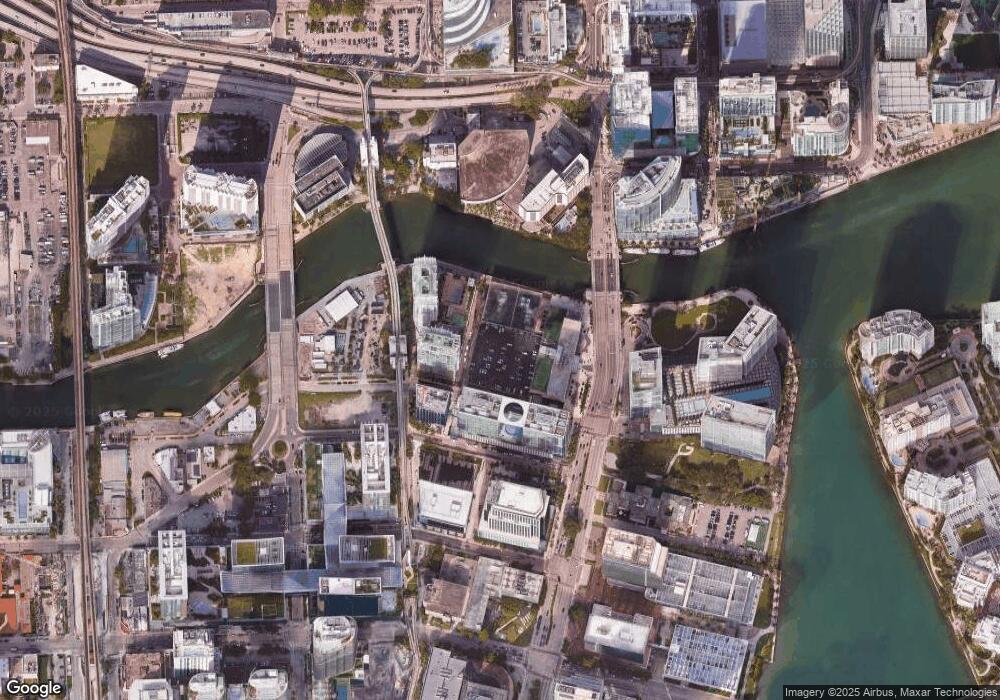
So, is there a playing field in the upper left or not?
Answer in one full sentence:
Yes, a playing field appears in the upper left.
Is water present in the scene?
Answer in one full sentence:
Yes, water shows up in the scene.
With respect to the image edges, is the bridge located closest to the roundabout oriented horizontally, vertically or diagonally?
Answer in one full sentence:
The bridge located closest to the roundabout runs vertically in the image.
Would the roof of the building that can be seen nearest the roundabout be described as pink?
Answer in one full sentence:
No, the roof of the building that can be seen nearest the roundabout is actually white.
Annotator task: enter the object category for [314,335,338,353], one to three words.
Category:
shed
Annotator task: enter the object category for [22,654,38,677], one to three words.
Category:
house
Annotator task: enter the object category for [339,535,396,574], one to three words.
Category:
building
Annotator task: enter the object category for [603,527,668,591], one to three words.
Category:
building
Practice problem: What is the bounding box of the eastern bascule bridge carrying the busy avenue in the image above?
[587,248,624,307]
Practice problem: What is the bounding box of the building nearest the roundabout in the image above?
[229,405,256,433]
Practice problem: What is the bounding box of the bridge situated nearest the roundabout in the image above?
[260,244,295,352]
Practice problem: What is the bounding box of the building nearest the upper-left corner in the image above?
[34,54,60,71]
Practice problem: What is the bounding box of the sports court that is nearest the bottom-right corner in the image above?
[744,518,771,552]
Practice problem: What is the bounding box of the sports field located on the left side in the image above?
[84,115,157,190]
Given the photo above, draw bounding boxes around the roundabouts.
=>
[263,430,297,464]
